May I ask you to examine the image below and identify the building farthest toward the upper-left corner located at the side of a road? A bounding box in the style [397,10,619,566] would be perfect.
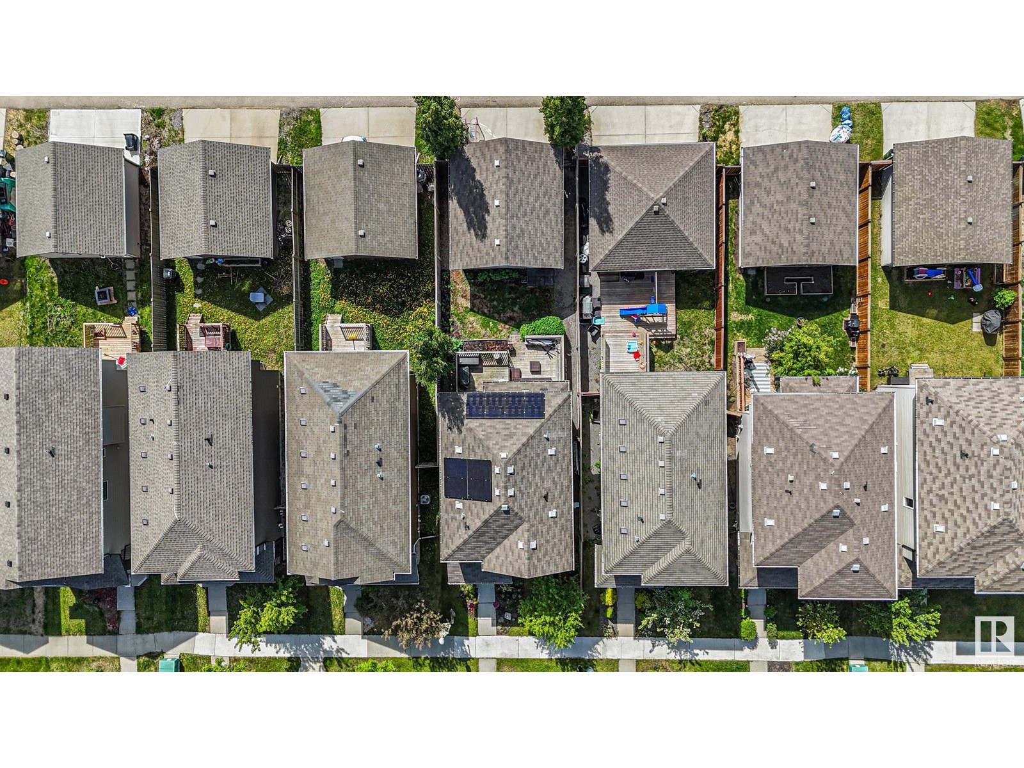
[15,141,140,260]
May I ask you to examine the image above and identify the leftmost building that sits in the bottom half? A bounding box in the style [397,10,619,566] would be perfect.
[0,346,146,587]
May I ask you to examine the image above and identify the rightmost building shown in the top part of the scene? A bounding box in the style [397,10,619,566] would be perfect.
[880,135,1013,269]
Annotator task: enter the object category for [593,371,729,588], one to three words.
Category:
house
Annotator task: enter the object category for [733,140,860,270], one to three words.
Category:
building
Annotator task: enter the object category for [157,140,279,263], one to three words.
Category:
building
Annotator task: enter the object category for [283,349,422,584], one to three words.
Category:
house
